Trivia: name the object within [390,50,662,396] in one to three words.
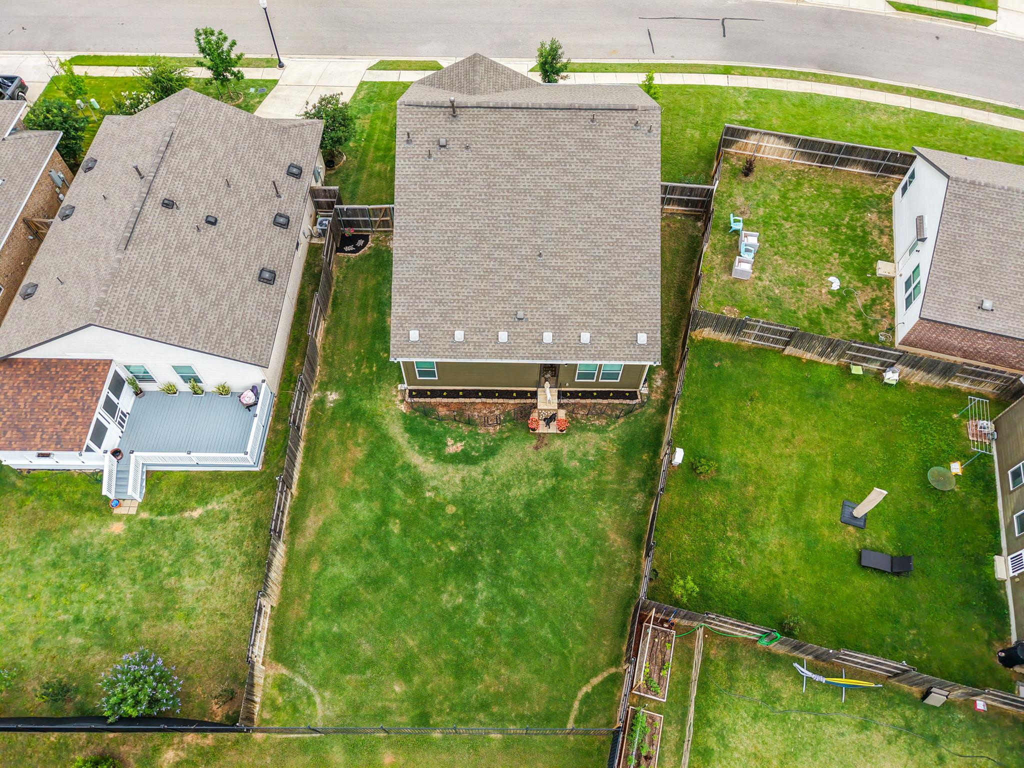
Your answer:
house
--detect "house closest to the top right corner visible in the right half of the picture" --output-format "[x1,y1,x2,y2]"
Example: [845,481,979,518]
[877,146,1024,377]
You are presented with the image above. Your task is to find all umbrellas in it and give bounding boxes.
[841,486,888,524]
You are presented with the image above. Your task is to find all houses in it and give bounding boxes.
[390,50,662,396]
[877,146,1024,377]
[992,407,1024,649]
[0,90,323,393]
